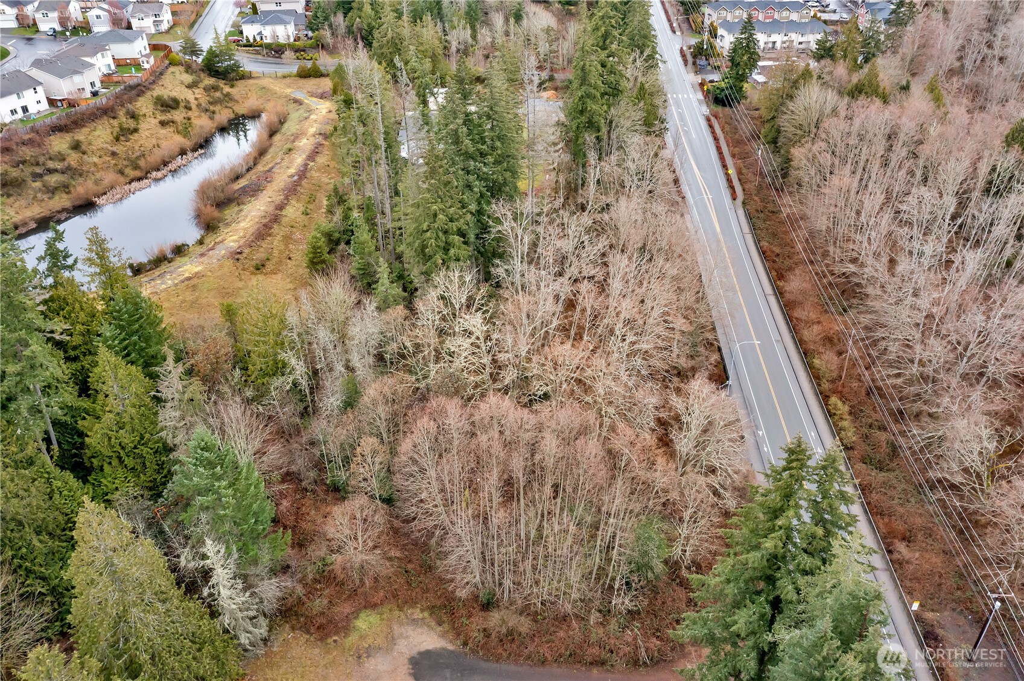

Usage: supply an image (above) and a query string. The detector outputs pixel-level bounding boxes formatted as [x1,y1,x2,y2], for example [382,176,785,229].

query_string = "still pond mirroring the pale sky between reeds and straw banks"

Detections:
[4,116,264,300]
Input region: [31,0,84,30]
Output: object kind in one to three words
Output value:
house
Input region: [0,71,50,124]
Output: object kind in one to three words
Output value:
house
